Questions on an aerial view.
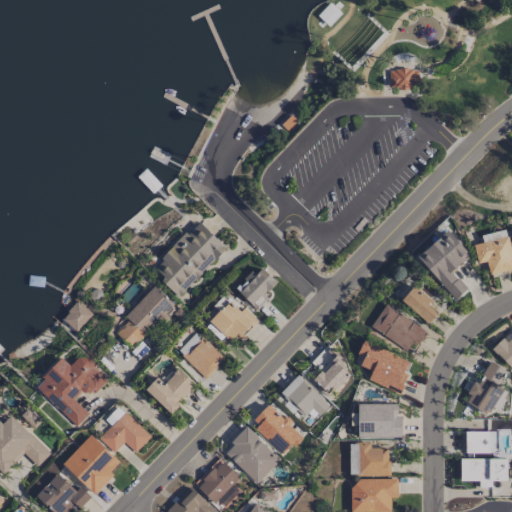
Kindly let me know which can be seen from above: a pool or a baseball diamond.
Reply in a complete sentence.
Of the two, only a pool appears.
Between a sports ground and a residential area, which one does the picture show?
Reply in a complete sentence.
This looks like a residential area.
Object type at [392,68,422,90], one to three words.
building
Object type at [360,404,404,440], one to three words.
house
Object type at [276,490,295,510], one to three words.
swimming pool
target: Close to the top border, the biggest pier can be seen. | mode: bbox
[192,4,239,83]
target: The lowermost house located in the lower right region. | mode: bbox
[353,480,400,512]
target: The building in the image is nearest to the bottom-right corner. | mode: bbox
[462,458,510,488]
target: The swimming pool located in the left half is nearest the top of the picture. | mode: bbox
[121,283,140,304]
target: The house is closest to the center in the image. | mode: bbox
[241,268,279,306]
